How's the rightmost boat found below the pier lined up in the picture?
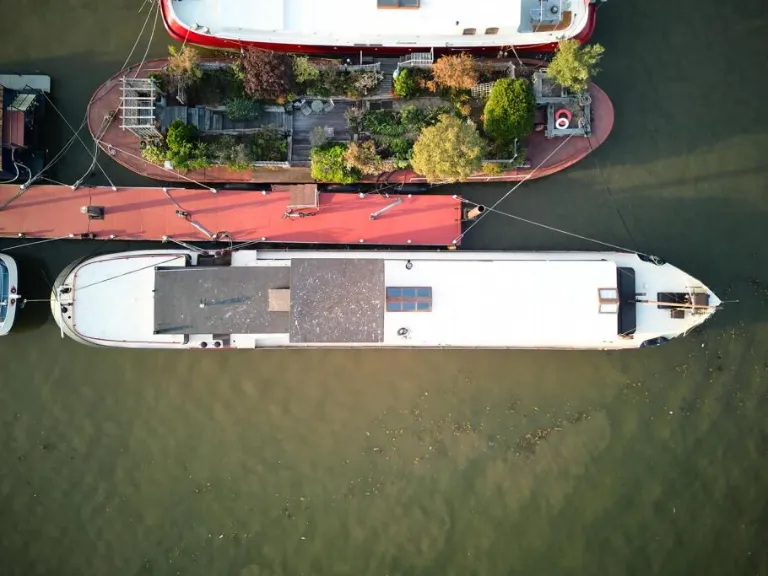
horizontally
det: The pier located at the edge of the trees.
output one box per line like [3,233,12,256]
[0,184,474,246]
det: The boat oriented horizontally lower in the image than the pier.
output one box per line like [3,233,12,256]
[50,248,739,351]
